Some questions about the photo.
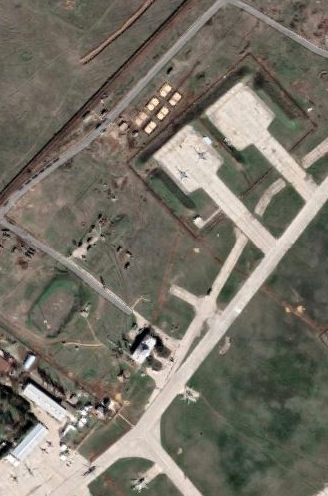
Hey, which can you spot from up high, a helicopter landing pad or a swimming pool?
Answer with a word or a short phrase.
helicopter landing pad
